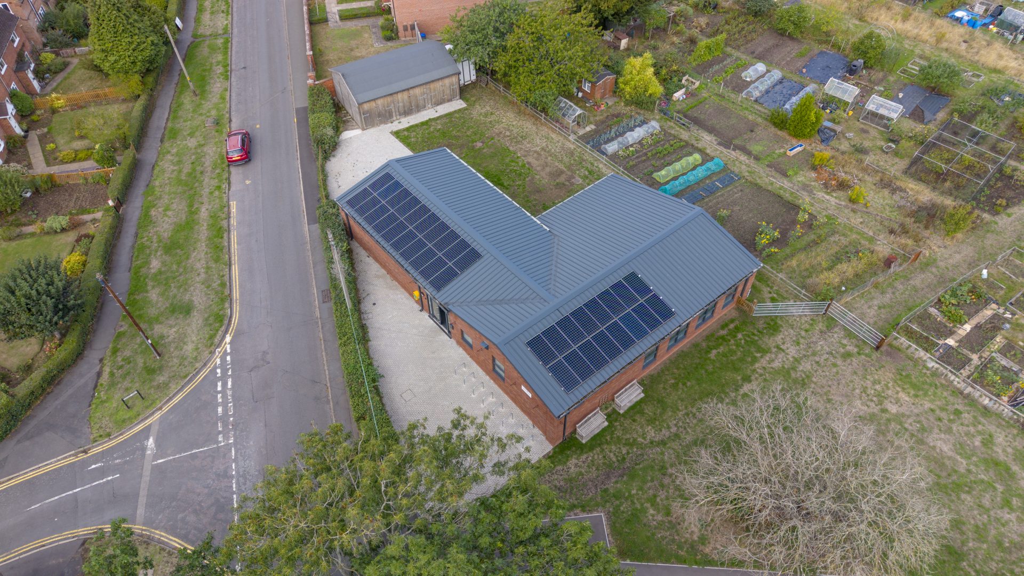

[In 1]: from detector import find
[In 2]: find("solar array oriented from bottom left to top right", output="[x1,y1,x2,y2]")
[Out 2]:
[526,271,675,393]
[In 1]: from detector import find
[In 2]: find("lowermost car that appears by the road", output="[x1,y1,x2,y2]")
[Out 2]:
[220,123,251,161]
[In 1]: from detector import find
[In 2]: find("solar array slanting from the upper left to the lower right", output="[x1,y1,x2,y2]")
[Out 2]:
[347,172,481,291]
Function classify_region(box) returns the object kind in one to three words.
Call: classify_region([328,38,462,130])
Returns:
barn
